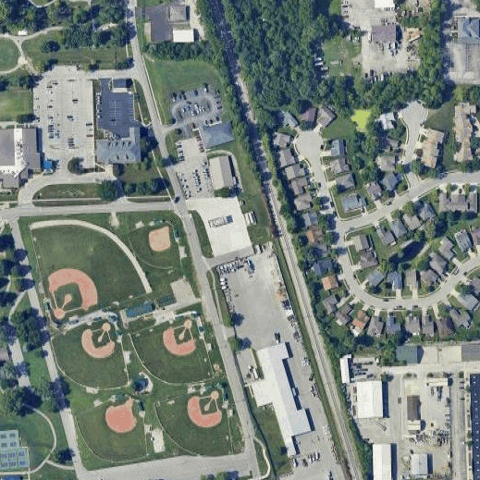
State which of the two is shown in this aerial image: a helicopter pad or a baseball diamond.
baseball diamond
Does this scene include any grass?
Yes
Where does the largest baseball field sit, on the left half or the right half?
left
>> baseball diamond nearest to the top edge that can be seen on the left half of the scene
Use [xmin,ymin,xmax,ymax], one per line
[129,220,186,270]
